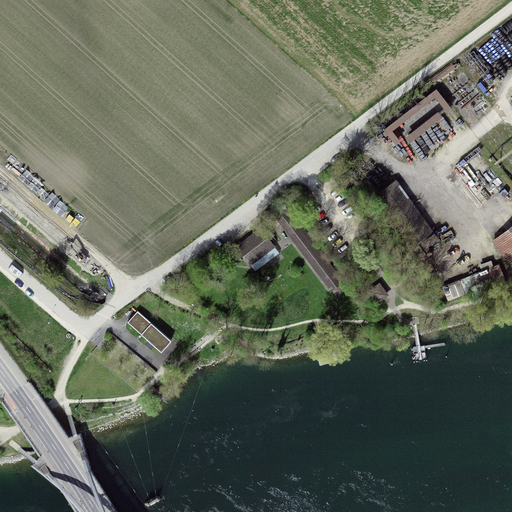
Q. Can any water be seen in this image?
Yes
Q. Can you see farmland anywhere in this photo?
Yes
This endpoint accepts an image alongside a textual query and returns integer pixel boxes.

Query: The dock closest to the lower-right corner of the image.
[411,316,446,362]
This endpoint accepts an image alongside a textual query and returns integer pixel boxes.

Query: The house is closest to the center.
[235,230,278,272]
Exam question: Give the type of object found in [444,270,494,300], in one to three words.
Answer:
building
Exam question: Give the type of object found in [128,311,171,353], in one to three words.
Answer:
house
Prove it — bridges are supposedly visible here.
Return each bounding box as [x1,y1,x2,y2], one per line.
[0,346,114,512]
